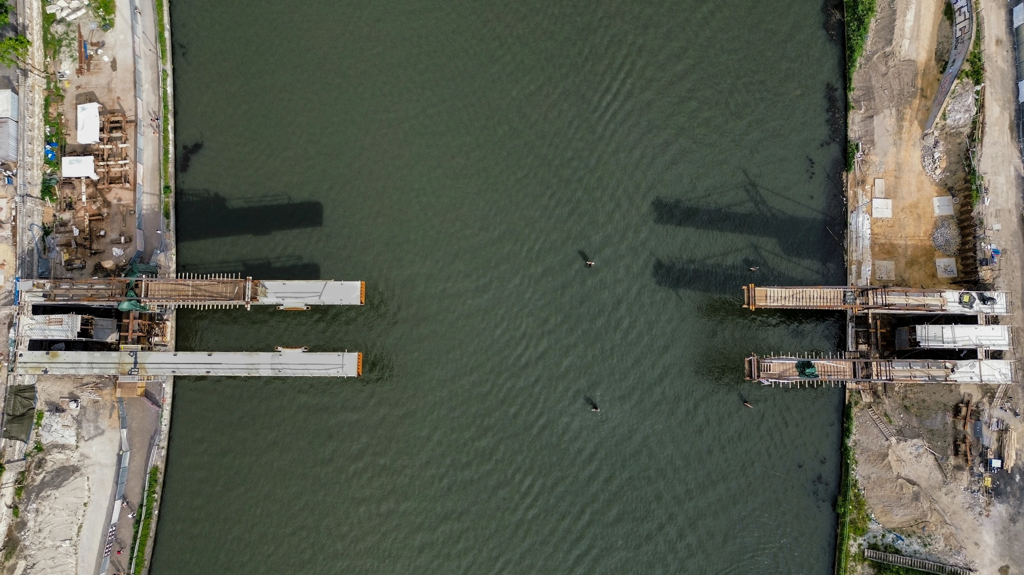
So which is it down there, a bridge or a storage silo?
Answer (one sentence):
Of the two, only a bridge appears.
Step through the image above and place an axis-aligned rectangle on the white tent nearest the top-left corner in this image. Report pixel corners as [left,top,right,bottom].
[77,102,107,145]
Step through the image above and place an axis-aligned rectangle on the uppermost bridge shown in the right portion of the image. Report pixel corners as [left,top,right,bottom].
[741,284,1014,315]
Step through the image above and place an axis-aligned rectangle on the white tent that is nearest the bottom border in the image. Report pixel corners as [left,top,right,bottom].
[63,156,103,179]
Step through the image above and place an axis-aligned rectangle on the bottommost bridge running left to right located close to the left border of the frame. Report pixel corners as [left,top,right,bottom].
[18,347,363,377]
